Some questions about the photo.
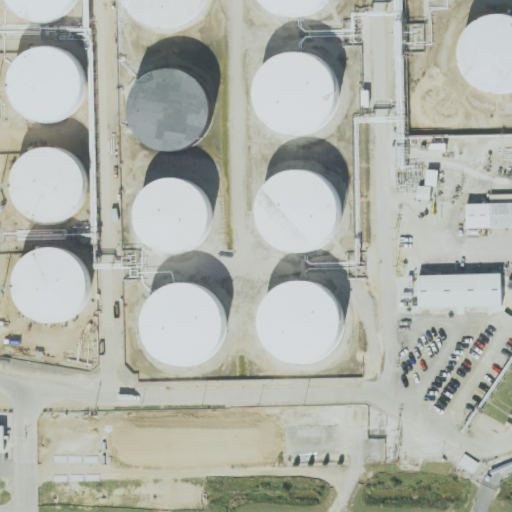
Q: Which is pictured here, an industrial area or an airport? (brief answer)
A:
industrial area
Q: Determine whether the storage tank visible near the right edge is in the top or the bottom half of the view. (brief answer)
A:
top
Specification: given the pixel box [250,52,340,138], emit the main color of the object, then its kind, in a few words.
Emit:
white storage tank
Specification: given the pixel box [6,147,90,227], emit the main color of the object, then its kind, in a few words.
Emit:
white storage tank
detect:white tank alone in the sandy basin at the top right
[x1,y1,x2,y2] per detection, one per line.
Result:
[454,10,512,98]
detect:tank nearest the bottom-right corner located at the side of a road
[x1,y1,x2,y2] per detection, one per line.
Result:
[254,280,346,366]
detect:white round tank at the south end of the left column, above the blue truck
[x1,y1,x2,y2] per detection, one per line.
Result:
[8,246,94,326]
